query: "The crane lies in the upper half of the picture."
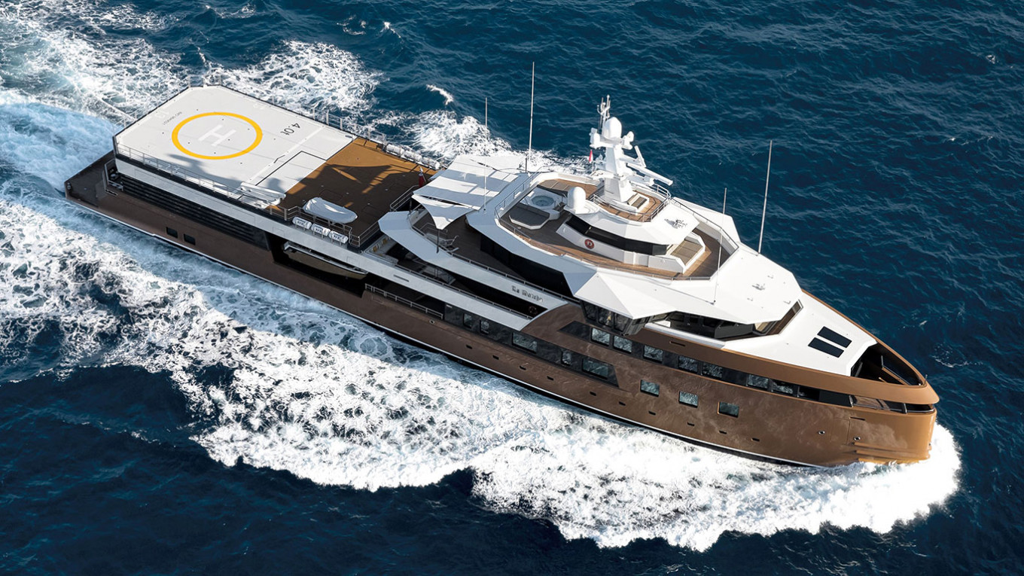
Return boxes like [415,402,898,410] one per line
[236,179,285,208]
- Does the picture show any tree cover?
No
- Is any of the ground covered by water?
Yes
